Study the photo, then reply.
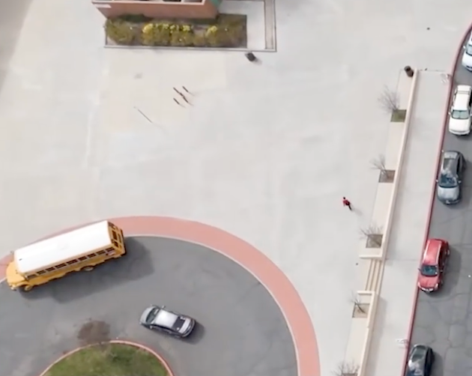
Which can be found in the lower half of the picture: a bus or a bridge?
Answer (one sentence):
The feature located in the lower half of the picture is a bus.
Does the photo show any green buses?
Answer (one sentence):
No, the scene contains no green bus.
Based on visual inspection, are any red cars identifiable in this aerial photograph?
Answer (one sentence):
Yes, there's a red car here.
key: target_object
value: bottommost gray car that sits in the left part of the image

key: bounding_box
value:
[143,307,196,337]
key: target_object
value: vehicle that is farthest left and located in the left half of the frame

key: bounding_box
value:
[11,223,125,289]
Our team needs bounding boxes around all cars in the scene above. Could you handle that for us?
[447,82,472,136]
[418,238,449,293]
[143,307,196,337]
[408,346,435,376]
[437,152,463,203]
[464,33,472,69]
